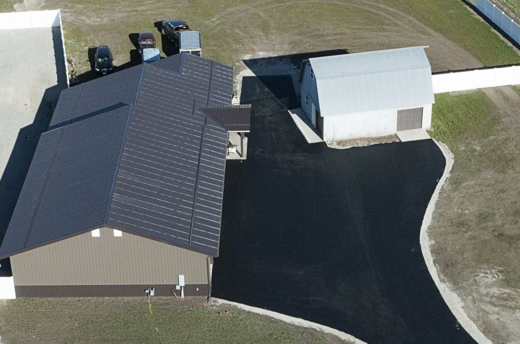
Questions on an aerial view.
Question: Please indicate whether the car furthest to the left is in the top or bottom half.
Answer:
top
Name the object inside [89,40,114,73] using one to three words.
car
